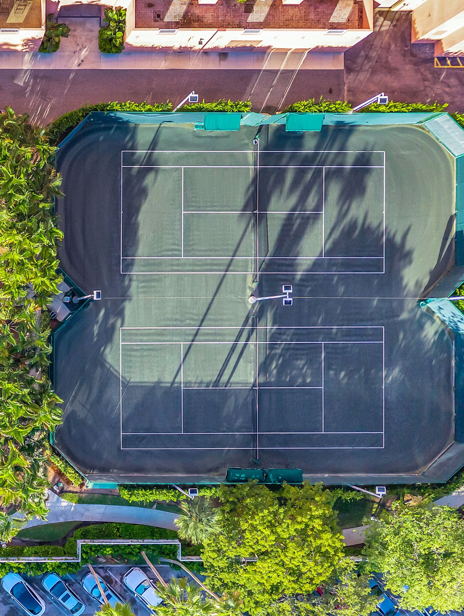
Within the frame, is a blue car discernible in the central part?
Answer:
No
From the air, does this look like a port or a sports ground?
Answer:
sports ground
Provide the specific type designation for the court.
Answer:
tennis court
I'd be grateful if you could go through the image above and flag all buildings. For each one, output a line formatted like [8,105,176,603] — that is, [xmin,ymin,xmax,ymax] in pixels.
[0,0,45,50]
[120,0,374,51]
[412,0,464,58]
